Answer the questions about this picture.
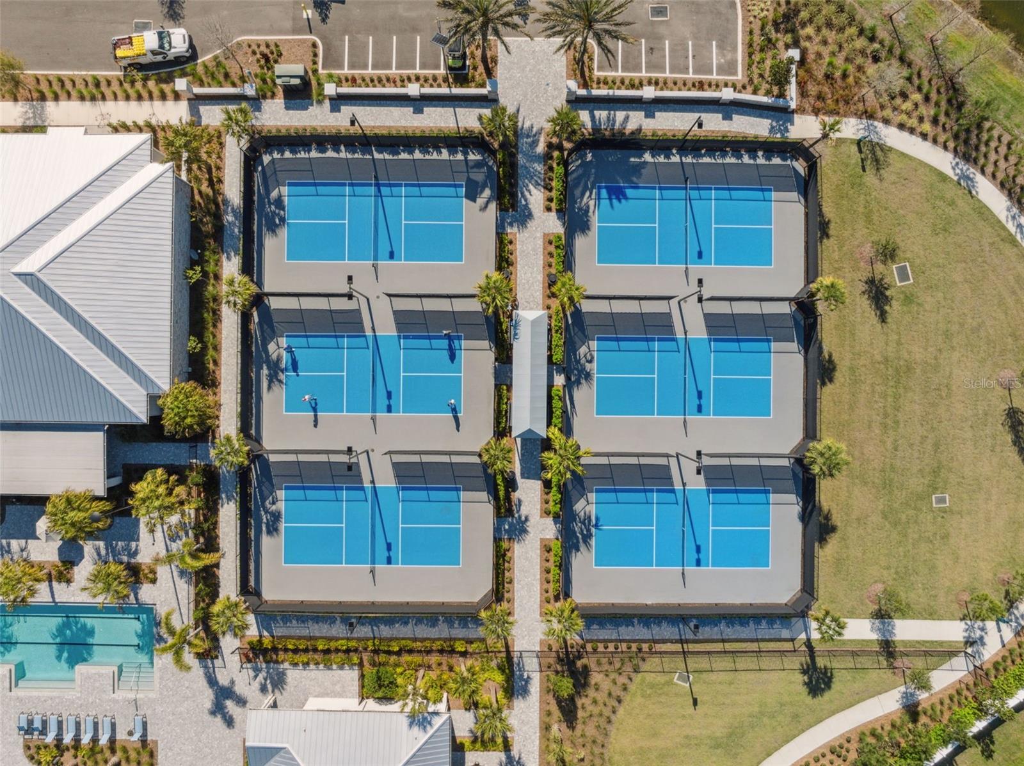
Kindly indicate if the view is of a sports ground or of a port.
sports ground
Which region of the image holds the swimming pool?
bottom left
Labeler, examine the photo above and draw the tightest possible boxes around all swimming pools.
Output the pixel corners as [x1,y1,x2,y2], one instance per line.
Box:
[0,600,157,699]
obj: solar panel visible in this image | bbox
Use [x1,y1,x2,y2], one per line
[430,28,450,47]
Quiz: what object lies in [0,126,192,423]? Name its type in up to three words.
building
